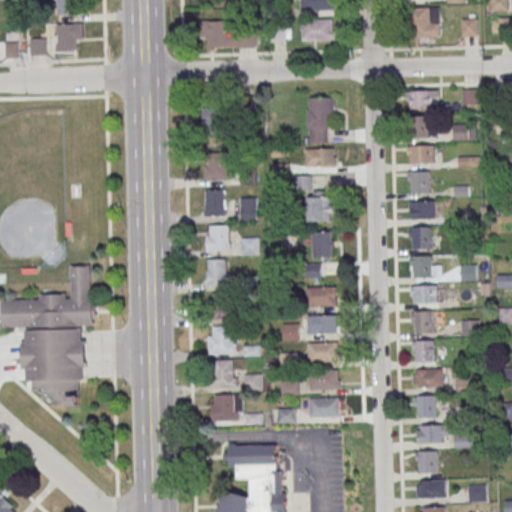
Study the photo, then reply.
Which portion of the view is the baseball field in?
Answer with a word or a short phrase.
left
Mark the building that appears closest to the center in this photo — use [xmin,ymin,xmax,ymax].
[240,236,260,256]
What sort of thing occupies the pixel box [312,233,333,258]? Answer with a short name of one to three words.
house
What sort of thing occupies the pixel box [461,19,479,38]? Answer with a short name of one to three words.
building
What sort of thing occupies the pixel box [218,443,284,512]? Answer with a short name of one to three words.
building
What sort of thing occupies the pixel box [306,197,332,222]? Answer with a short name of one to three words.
house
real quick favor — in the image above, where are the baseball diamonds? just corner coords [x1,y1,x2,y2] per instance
[0,198,66,267]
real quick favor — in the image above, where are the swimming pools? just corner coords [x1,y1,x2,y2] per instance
[460,289,472,301]
[478,260,491,272]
